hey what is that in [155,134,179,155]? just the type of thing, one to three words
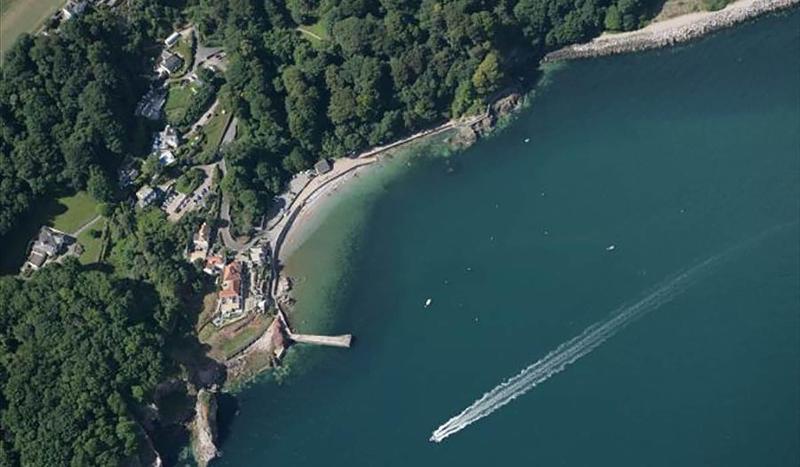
house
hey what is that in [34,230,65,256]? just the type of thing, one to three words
house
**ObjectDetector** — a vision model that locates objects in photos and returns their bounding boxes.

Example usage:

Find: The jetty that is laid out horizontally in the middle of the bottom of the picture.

[290,333,352,349]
